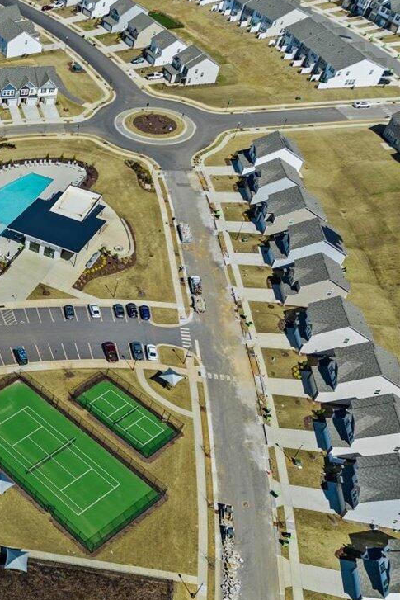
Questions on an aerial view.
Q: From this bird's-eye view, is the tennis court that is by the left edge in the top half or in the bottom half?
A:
bottom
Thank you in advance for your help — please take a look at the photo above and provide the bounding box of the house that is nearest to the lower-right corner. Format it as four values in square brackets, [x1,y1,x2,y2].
[344,530,400,600]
